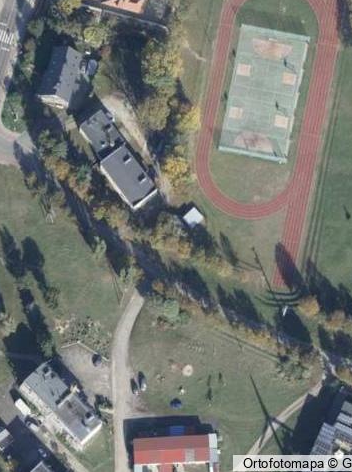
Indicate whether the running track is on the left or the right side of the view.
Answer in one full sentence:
The running track appears in the right half of the scene.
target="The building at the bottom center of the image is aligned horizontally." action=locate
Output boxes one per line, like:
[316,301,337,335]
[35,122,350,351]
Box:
[133,433,218,472]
